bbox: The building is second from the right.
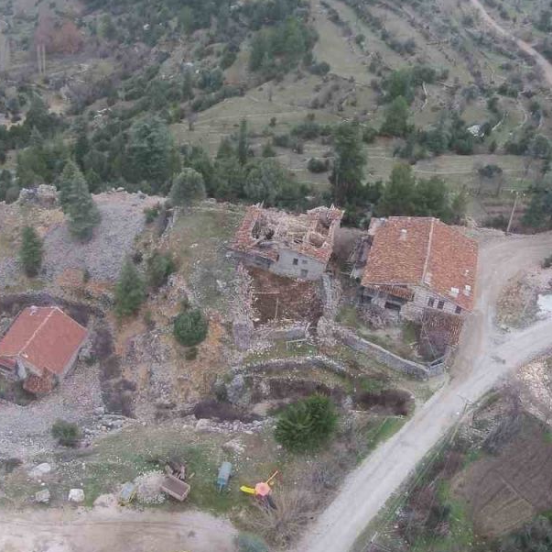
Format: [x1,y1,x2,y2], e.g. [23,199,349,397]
[232,205,342,287]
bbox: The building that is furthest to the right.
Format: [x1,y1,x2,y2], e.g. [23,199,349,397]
[360,216,479,350]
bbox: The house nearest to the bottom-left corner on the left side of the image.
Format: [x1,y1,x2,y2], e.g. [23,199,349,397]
[0,306,88,409]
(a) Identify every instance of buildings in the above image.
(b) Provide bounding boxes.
[0,306,88,409]
[360,216,479,350]
[232,205,342,287]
